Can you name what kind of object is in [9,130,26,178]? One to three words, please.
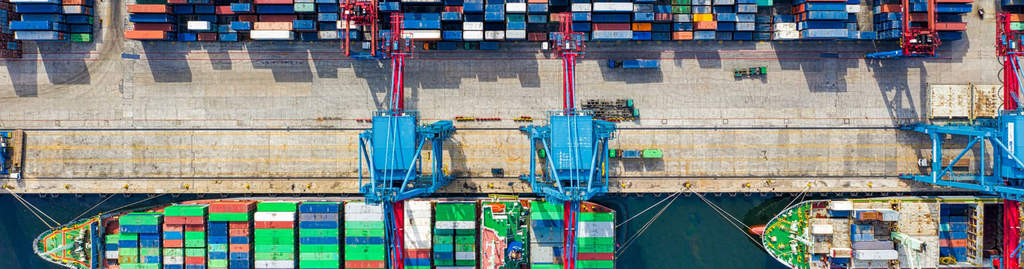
vehicle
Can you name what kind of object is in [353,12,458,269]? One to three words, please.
container crane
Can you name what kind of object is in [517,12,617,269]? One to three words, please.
container crane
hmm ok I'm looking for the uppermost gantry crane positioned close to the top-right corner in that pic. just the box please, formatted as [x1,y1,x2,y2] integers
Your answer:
[863,0,938,59]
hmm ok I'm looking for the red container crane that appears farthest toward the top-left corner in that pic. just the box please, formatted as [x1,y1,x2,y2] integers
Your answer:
[340,0,390,59]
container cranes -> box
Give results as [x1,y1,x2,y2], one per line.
[898,12,1024,269]
[517,12,617,269]
[340,0,390,59]
[863,0,938,59]
[353,12,458,269]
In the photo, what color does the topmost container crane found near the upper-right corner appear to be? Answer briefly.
red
